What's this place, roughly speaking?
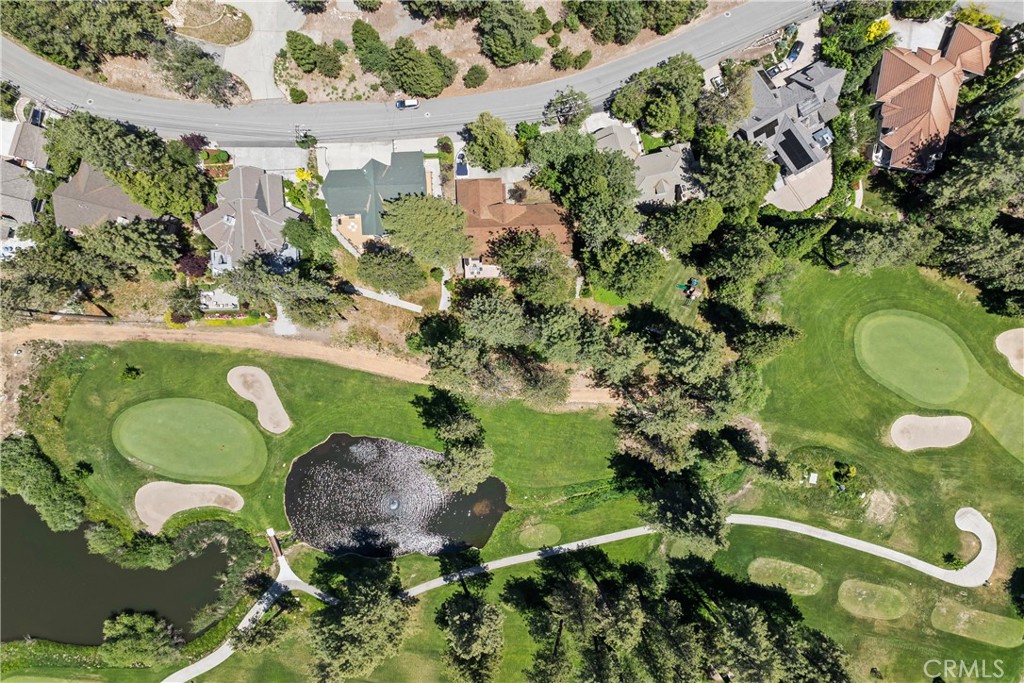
golf course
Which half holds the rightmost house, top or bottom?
top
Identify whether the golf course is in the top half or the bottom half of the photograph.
bottom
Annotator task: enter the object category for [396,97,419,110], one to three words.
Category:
vehicle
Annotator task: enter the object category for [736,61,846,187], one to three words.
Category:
house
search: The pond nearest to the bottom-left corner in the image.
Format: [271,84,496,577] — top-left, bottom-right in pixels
[0,474,227,646]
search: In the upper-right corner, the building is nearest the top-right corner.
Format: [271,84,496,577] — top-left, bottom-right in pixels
[870,22,999,179]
